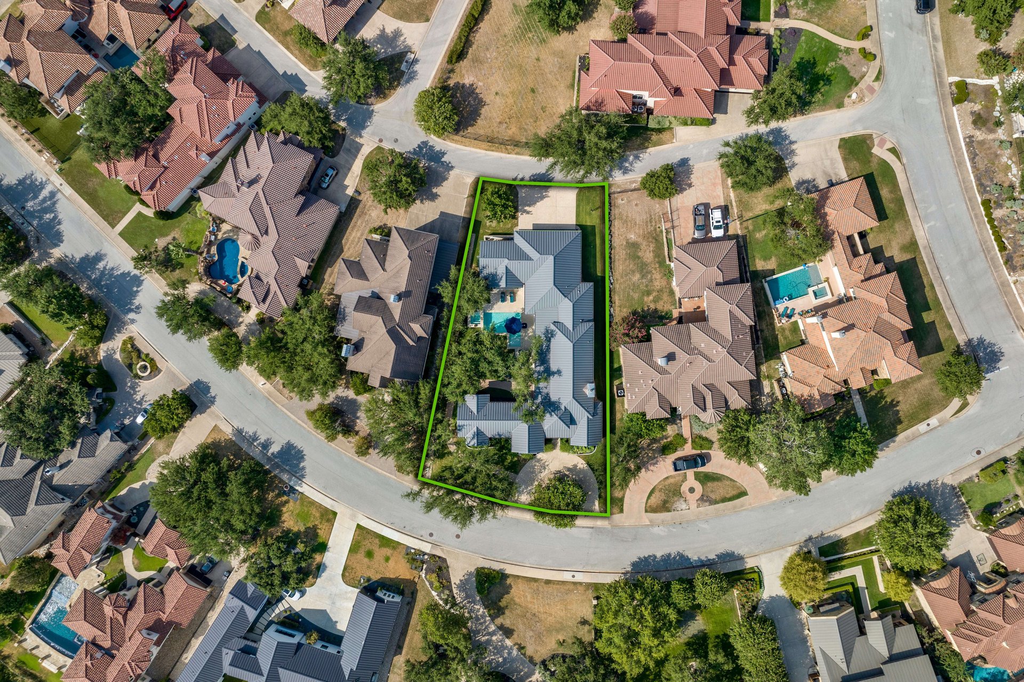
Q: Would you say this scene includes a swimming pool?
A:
Yes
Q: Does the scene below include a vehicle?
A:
Yes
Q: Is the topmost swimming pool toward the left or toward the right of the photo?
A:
left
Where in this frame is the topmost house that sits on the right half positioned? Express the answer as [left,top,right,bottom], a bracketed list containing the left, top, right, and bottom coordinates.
[580,0,770,120]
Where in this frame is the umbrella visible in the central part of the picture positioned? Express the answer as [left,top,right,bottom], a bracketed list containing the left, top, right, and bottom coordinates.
[505,317,528,334]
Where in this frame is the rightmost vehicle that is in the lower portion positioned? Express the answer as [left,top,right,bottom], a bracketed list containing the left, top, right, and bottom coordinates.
[671,455,706,471]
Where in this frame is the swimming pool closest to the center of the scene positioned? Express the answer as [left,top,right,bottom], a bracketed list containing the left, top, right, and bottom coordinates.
[468,311,523,349]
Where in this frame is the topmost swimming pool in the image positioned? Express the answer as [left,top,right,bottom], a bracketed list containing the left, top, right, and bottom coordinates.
[100,43,140,70]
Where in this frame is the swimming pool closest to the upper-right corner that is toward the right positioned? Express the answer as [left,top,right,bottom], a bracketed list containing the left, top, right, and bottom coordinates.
[765,263,833,308]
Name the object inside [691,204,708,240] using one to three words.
vehicle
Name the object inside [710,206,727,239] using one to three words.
car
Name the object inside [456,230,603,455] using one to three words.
house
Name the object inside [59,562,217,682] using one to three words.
house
